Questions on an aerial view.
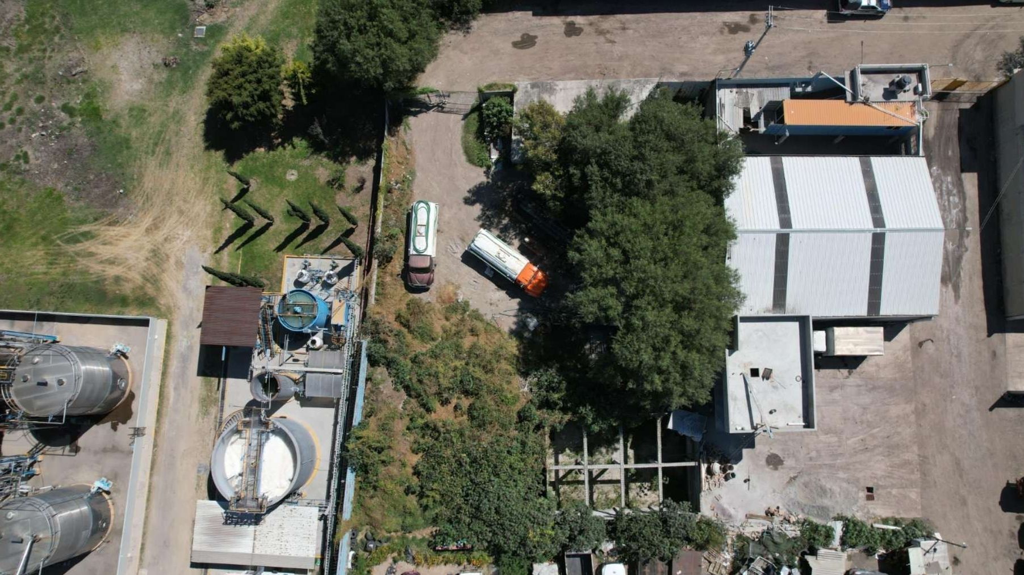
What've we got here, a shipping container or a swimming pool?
shipping container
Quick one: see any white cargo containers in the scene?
No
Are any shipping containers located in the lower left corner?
No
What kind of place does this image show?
industrial area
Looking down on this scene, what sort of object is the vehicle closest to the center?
truck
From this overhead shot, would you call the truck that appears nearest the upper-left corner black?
No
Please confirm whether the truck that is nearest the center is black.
No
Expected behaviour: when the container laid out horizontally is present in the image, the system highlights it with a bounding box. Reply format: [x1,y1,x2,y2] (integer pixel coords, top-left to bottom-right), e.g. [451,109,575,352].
[762,99,919,140]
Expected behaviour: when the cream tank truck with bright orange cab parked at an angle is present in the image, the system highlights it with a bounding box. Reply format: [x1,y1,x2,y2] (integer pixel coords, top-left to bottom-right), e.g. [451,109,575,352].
[467,228,550,298]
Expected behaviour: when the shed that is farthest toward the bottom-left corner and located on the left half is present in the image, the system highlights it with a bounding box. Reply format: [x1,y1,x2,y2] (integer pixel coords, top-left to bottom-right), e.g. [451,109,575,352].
[190,493,329,569]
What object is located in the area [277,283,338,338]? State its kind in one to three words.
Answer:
storage tank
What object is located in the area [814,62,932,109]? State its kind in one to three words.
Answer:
building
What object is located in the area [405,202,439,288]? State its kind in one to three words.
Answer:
truck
